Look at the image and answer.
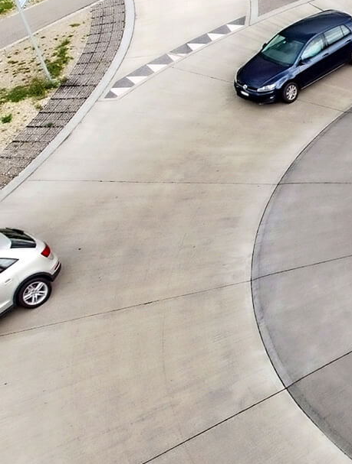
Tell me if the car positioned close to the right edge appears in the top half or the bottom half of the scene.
top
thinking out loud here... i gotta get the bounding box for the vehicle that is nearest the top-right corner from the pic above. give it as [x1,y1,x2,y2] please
[229,10,352,103]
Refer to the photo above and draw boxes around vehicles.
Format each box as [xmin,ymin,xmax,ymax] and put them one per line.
[229,10,352,103]
[0,226,54,316]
